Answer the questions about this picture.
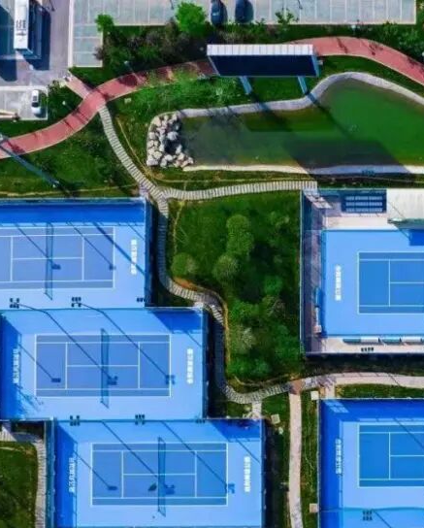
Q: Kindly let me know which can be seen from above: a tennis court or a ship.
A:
tennis court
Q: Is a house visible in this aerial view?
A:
No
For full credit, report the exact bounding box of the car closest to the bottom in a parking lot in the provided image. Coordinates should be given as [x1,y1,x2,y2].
[29,90,43,116]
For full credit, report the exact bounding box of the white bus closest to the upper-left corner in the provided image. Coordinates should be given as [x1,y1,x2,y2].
[11,0,34,52]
